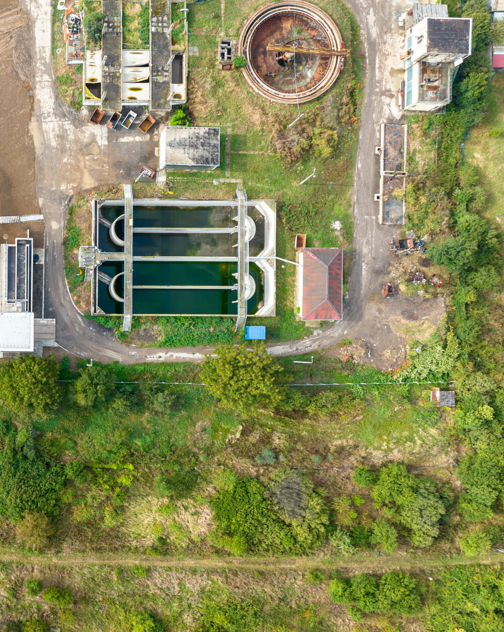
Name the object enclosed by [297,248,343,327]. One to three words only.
house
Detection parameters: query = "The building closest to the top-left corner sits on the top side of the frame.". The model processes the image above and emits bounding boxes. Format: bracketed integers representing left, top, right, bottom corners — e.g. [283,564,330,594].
[155,126,220,170]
